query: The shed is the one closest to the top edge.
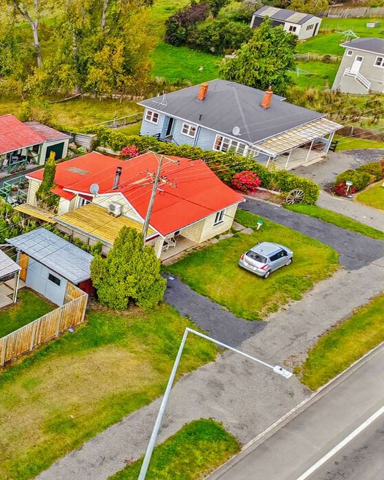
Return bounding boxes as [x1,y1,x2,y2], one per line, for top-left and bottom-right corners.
[251,2,323,37]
